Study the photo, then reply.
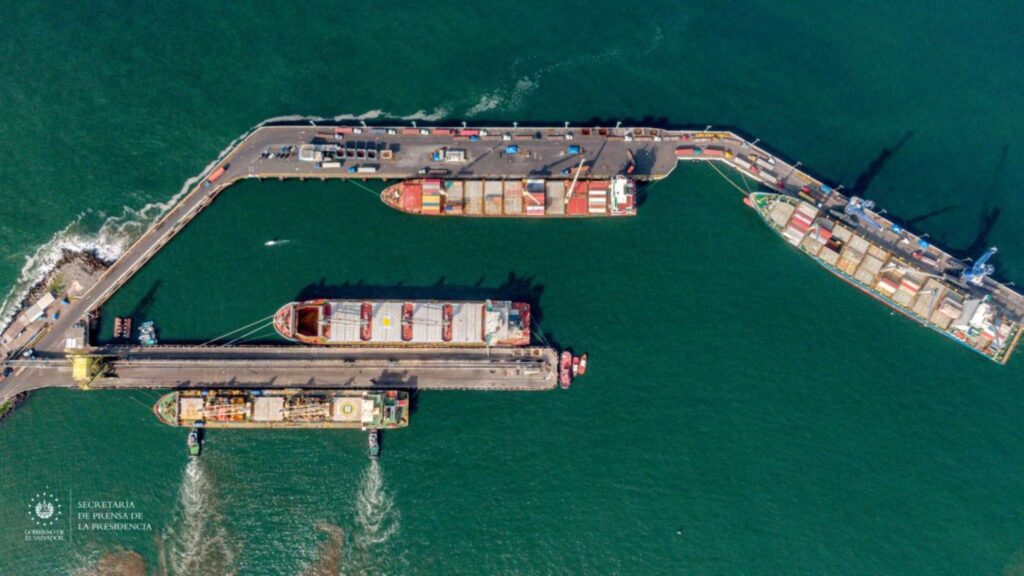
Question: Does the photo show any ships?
Yes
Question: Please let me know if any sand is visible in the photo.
No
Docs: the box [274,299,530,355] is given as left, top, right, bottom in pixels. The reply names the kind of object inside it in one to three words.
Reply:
ship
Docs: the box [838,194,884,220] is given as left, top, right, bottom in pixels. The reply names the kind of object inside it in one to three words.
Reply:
crane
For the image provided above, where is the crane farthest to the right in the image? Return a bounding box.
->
[955,247,1009,290]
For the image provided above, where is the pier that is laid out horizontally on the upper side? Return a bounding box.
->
[70,126,1024,331]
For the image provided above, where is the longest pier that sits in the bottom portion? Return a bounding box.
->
[87,344,557,391]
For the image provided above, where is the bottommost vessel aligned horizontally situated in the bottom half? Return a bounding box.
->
[151,390,409,430]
